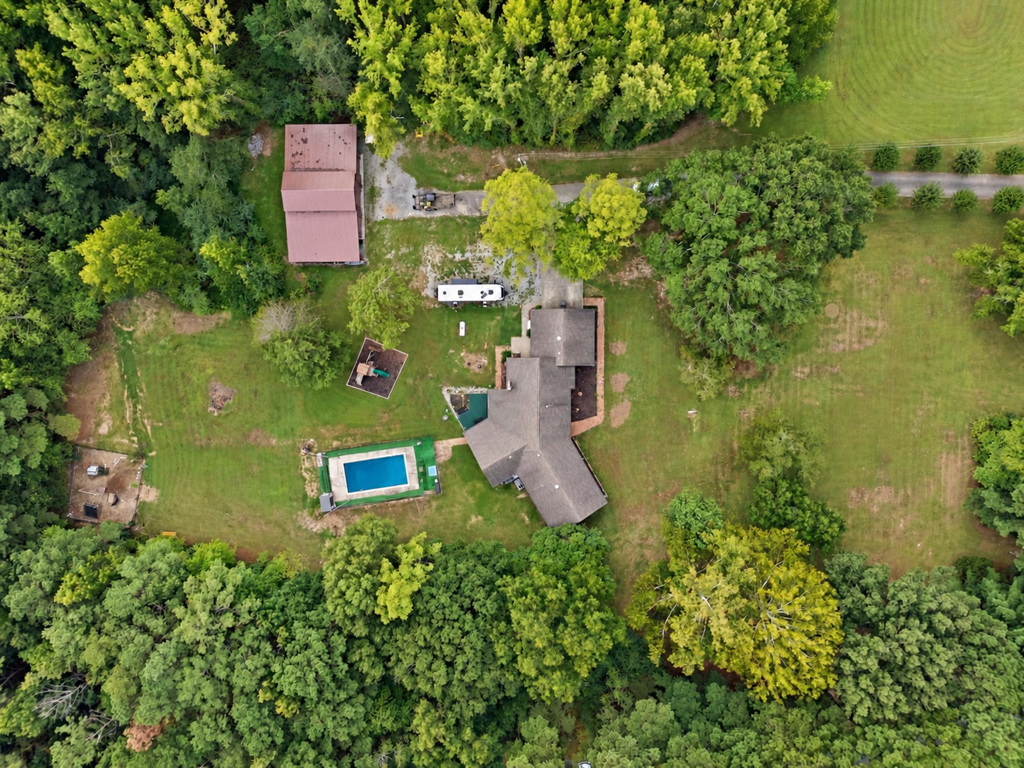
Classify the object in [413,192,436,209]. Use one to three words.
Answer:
work vehicle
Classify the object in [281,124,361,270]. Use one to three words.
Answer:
barn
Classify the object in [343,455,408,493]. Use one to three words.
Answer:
swimming pool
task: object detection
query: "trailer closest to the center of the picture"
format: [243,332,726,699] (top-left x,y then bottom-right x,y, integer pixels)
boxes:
[437,278,511,306]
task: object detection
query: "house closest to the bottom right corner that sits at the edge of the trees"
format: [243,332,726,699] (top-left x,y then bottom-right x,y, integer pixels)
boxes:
[463,309,608,526]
